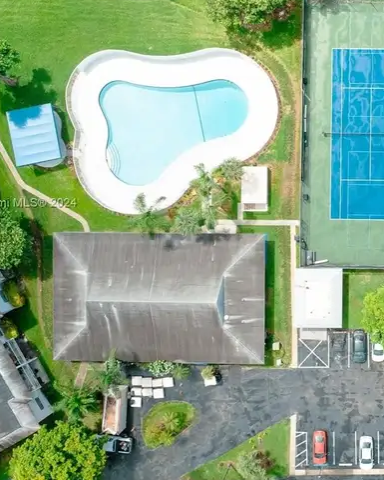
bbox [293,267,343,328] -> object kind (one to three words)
shed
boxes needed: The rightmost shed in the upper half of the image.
[240,167,269,211]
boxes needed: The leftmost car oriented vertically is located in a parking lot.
[312,429,328,465]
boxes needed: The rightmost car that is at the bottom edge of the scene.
[358,434,375,469]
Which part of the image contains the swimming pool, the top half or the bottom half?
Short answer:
top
